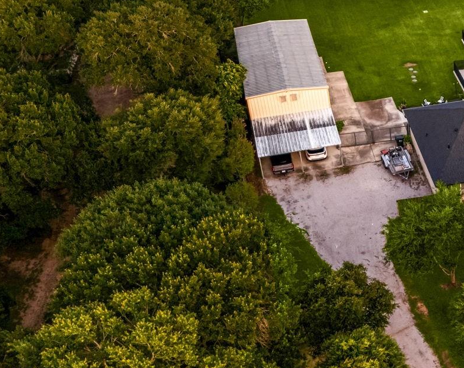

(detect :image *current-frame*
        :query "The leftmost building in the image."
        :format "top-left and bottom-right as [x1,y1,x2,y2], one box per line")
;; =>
[234,18,344,177]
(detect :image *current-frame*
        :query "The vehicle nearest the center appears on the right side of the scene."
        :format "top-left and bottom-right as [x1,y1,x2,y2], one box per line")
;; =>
[271,154,294,172]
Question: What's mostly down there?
trees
